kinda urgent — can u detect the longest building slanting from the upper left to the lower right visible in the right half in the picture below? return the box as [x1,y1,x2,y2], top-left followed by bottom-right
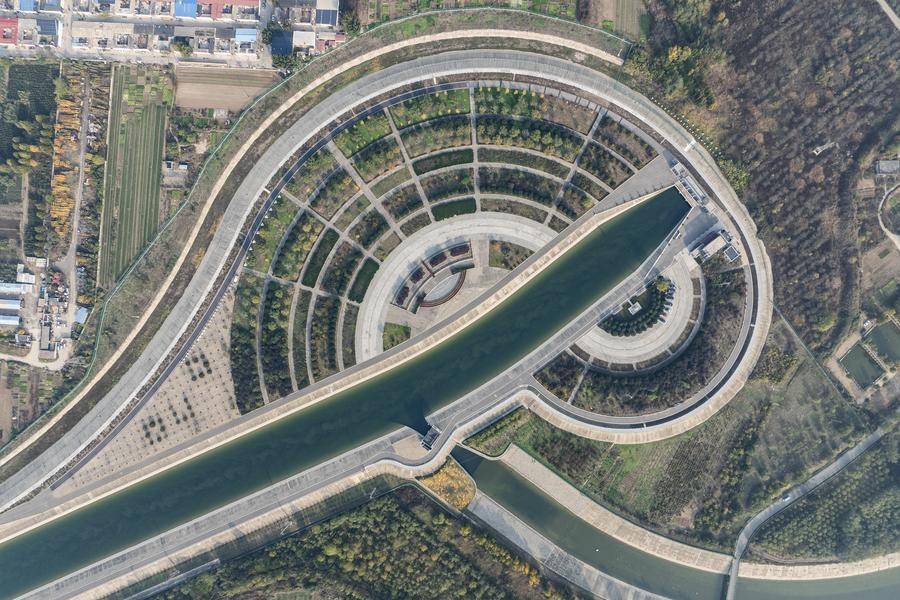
[670,163,712,214]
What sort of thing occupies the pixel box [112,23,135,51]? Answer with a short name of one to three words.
house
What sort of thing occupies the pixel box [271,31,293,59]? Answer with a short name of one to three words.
house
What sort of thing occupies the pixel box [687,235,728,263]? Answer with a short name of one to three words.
building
